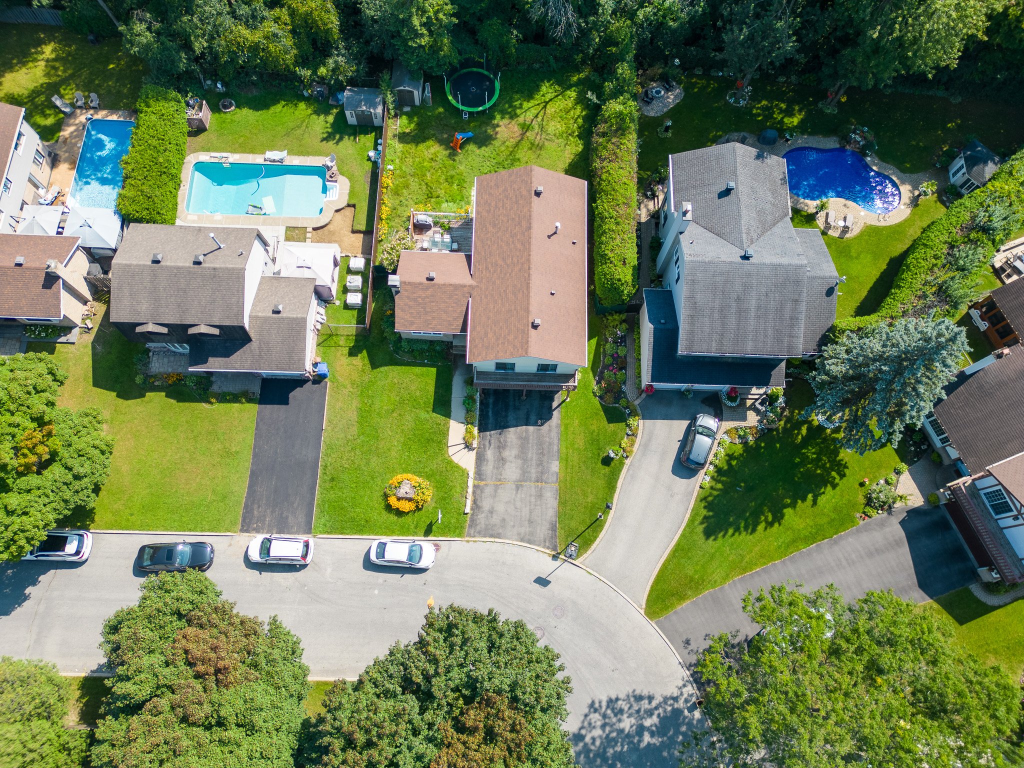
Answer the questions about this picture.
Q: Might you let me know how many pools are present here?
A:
3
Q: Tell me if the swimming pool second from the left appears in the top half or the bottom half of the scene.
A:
top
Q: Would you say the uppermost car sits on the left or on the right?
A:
right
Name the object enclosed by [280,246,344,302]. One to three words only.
gazebo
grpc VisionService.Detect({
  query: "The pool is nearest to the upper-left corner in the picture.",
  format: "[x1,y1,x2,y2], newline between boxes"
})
[61,117,133,236]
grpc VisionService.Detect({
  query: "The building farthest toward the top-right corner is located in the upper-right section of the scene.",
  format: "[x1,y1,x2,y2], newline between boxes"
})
[950,137,1024,192]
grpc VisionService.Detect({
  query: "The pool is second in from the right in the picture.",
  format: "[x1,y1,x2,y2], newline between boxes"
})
[179,149,350,227]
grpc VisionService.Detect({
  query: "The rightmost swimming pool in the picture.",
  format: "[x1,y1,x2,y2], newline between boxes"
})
[781,143,905,220]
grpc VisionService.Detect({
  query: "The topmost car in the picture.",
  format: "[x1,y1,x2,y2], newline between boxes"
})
[680,409,722,474]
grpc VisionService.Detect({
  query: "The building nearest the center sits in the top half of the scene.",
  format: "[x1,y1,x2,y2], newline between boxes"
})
[386,165,589,404]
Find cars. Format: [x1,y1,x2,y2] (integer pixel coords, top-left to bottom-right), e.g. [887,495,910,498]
[680,409,722,474]
[135,538,216,573]
[18,528,95,564]
[246,531,316,567]
[368,537,438,571]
